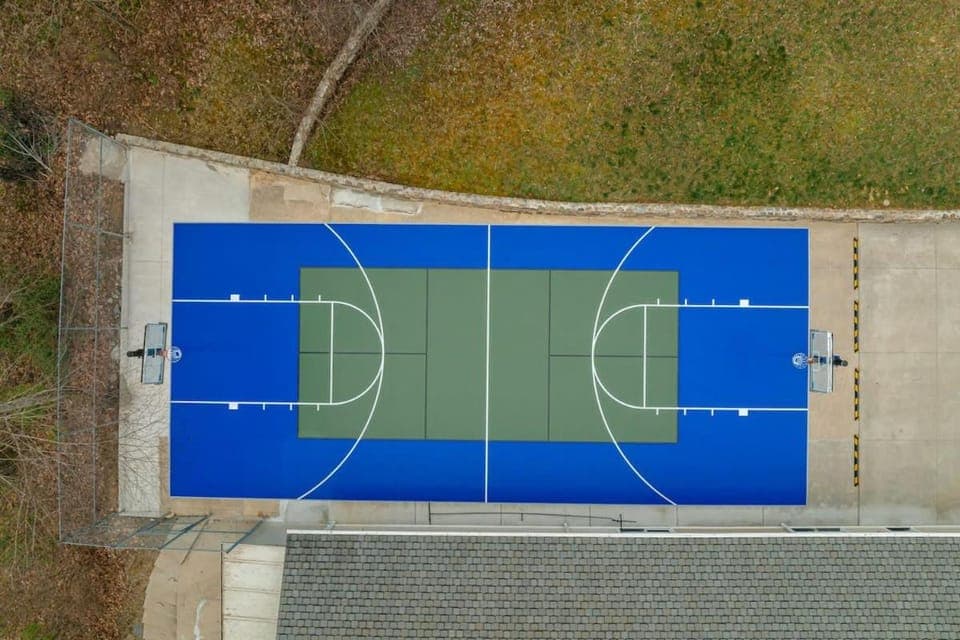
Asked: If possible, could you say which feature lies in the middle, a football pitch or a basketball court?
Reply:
basketball court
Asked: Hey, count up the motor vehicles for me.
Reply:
zero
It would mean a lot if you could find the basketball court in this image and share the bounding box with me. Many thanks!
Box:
[170,222,809,504]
